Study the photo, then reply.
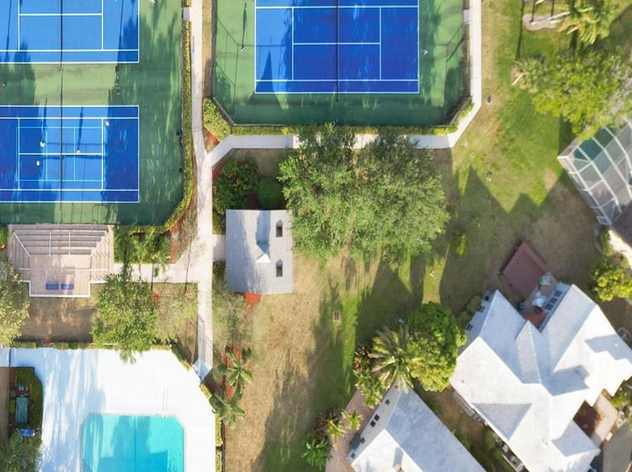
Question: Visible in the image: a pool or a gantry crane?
pool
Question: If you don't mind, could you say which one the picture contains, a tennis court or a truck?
tennis court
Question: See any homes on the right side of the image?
Yes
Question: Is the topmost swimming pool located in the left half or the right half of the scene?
right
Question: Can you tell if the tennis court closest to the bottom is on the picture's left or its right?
left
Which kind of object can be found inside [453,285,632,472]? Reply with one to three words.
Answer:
house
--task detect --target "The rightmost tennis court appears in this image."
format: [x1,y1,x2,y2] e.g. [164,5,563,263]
[213,0,466,124]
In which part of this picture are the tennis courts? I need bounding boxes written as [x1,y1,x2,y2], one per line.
[0,84,183,224]
[213,0,466,124]
[0,0,183,84]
